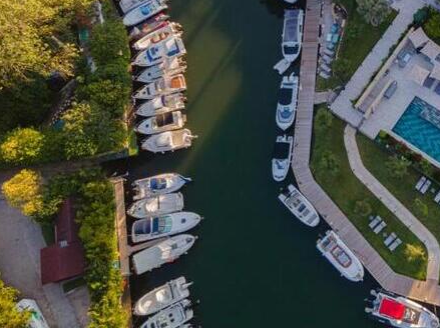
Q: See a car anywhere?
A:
No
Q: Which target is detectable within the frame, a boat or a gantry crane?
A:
boat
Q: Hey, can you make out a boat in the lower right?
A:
Yes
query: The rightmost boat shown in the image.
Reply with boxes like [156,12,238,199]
[364,288,440,328]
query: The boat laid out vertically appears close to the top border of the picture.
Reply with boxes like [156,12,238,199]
[279,8,303,65]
